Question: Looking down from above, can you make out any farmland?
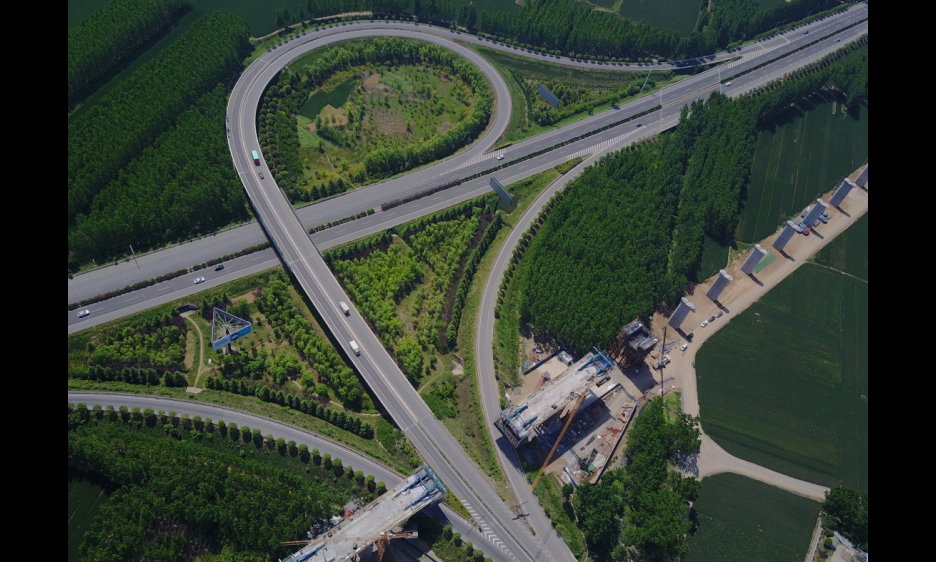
Yes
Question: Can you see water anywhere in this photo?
No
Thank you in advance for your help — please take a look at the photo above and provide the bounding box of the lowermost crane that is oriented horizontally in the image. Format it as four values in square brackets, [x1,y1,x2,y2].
[231,531,418,562]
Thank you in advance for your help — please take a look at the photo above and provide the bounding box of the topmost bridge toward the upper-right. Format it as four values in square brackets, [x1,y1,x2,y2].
[654,67,744,114]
